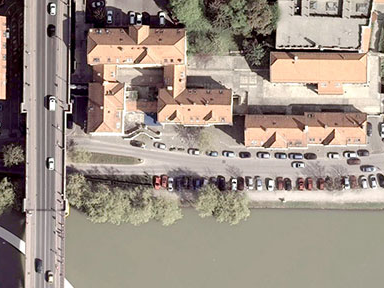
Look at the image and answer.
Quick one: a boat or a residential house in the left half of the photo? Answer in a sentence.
The feature located in the left half of the photo is a residential house.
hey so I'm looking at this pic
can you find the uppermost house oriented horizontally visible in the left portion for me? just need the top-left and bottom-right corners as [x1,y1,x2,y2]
[88,25,186,67]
